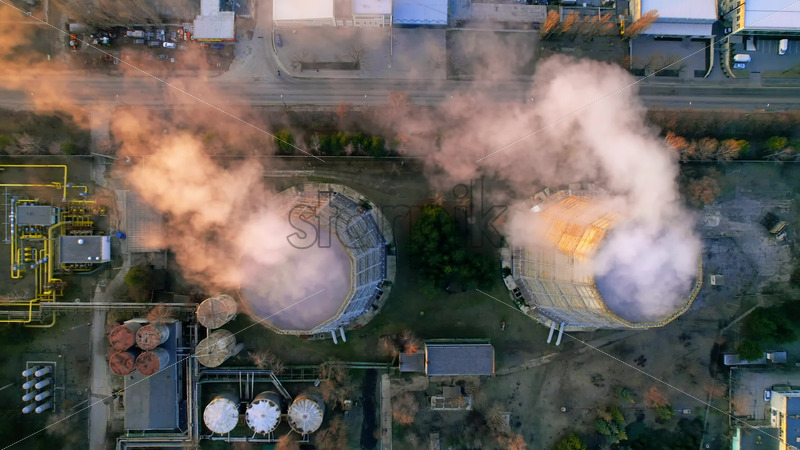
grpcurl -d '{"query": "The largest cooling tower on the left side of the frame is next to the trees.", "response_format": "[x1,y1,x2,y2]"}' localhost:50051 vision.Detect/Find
[234,177,401,348]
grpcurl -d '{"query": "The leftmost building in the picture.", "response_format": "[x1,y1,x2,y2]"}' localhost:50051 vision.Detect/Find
[18,205,59,224]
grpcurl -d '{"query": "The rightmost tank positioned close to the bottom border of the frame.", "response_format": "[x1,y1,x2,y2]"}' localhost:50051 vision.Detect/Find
[288,391,326,433]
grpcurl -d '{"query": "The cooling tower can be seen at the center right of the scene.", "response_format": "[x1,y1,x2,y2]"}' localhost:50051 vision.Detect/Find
[502,175,708,349]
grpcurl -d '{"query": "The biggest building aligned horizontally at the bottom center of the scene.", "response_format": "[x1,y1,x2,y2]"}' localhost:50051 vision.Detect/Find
[427,343,494,374]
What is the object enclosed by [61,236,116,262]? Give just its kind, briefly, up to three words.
house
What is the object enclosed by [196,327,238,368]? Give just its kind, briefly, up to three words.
storage tank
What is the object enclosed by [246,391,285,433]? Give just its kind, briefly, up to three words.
storage tank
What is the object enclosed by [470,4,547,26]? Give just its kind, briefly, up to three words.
building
